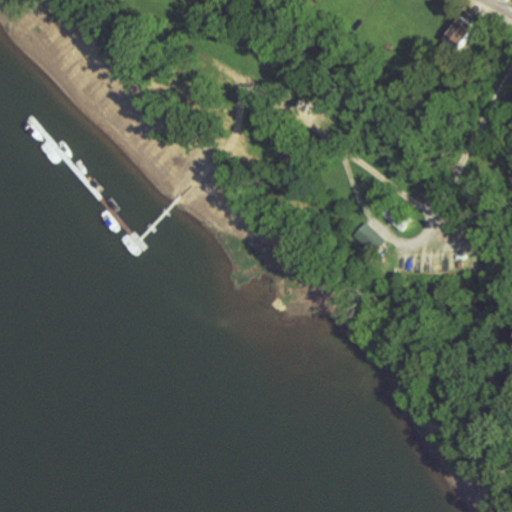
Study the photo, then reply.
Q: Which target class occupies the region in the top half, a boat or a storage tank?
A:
boat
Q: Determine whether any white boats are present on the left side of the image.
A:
Yes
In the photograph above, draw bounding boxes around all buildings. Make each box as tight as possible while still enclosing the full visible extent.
[388,212,416,234]
[444,16,472,48]
[354,223,385,253]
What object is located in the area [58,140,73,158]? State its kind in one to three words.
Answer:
boat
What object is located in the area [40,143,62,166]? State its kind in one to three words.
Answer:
boat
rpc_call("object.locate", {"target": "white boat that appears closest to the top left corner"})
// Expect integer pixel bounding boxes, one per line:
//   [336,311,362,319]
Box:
[27,125,43,142]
